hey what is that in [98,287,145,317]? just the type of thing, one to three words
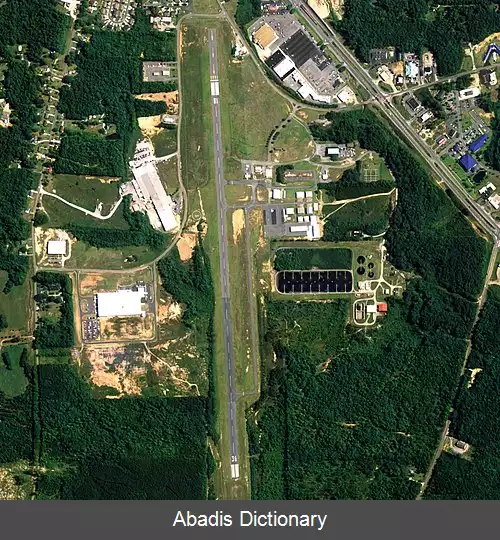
building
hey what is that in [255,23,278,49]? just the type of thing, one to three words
building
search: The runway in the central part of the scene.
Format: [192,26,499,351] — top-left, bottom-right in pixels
[209,29,238,479]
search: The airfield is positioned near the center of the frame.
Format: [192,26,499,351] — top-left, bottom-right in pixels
[209,29,318,479]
